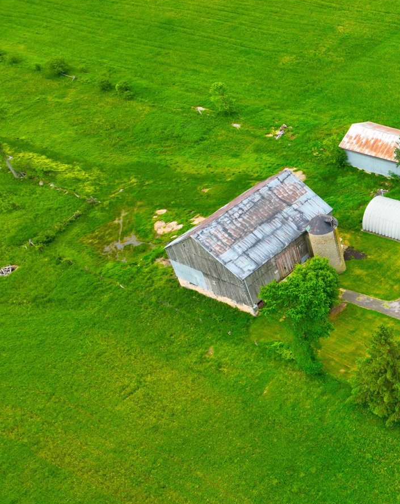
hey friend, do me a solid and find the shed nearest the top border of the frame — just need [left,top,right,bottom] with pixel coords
[340,124,400,179]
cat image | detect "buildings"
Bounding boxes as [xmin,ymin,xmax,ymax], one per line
[360,190,400,242]
[340,124,400,179]
[163,172,333,316]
